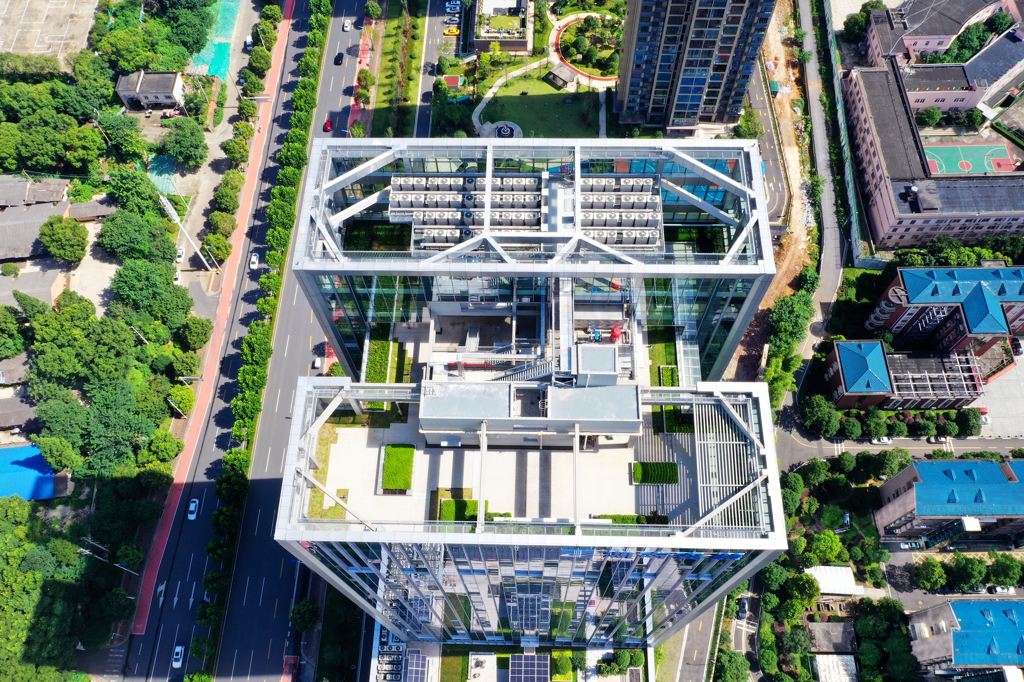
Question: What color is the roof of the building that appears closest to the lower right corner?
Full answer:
From above, the roof of the building that appears closest to the lower right corner looks blue.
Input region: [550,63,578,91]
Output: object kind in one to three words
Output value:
building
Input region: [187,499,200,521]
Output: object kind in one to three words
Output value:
vehicle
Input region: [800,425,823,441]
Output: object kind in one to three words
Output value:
car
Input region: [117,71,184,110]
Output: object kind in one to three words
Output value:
house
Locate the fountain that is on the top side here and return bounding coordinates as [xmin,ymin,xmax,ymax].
[495,122,516,139]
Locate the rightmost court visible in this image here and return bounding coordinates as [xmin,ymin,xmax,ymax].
[921,142,1021,175]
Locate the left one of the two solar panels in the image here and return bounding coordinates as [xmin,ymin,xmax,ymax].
[407,654,428,682]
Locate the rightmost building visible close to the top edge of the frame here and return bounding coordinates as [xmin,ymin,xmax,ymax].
[842,0,1024,238]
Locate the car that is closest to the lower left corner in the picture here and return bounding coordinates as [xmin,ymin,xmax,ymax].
[171,644,185,670]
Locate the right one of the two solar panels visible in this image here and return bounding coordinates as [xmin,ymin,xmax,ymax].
[510,654,549,682]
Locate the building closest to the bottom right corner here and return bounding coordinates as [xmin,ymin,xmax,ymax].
[909,598,1024,682]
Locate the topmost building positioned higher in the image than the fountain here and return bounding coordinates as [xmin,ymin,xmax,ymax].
[475,0,531,55]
